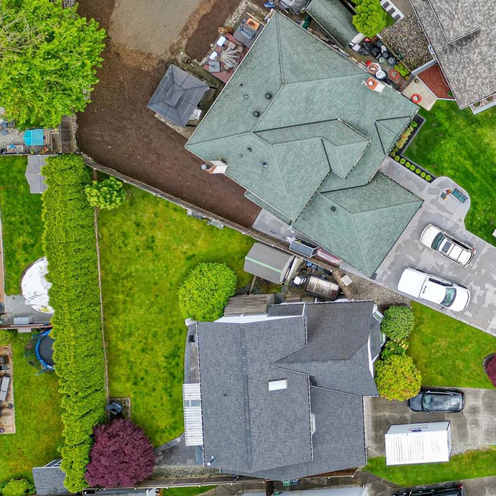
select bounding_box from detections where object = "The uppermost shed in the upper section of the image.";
[303,0,364,50]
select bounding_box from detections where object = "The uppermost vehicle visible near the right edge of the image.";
[415,222,478,268]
